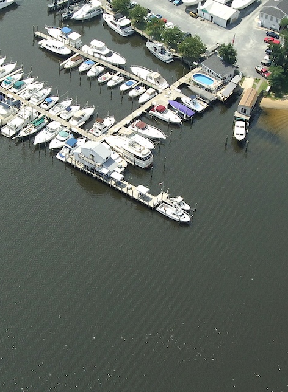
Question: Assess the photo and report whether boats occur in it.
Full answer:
Yes, the picture does show a boat.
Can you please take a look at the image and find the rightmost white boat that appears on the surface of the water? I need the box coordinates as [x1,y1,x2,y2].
[231,113,248,144]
